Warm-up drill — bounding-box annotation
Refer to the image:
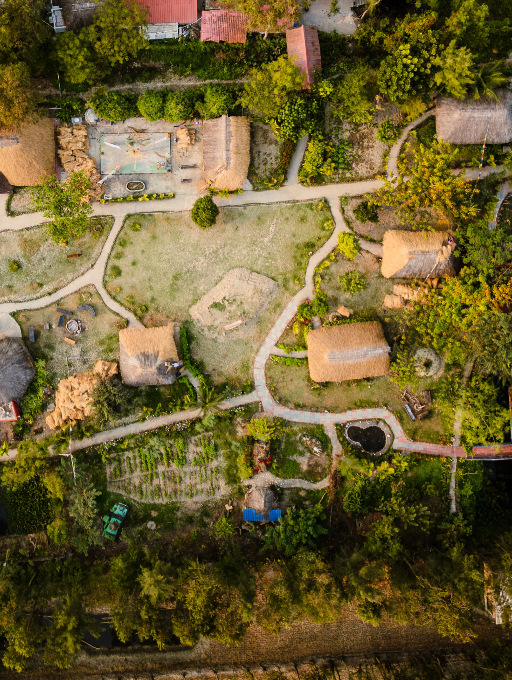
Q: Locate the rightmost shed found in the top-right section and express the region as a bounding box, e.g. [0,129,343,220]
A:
[434,89,512,145]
